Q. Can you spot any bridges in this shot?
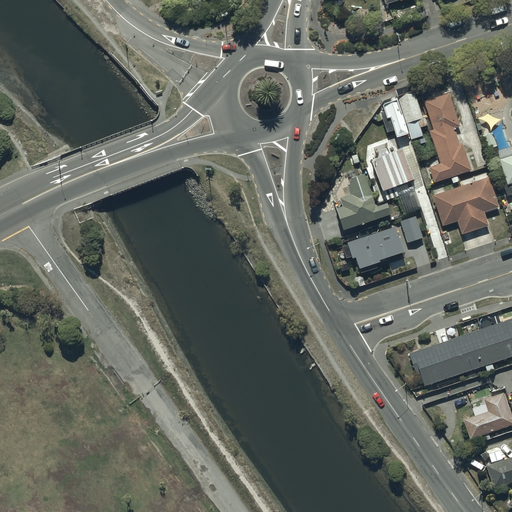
Yes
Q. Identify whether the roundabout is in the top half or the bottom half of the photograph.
top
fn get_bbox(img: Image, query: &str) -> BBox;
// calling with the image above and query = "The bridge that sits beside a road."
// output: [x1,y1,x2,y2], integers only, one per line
[22,110,214,208]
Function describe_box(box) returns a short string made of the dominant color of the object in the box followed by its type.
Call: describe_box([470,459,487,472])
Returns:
white vehicle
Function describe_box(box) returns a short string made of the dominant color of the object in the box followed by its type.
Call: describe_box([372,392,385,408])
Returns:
red vehicle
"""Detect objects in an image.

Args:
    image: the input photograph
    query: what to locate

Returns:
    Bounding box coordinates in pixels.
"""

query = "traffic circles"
[172,0,314,160]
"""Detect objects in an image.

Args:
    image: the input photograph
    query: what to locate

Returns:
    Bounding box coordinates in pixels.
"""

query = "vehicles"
[500,249,512,258]
[501,444,512,458]
[264,61,284,70]
[470,459,487,472]
[359,323,374,332]
[372,392,385,408]
[309,257,318,273]
[338,84,354,93]
[294,2,301,18]
[382,76,398,85]
[294,28,301,44]
[222,44,236,52]
[174,38,190,47]
[443,302,459,311]
[492,18,509,27]
[378,316,394,324]
[296,89,304,105]
[448,20,463,28]
[293,126,300,140]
